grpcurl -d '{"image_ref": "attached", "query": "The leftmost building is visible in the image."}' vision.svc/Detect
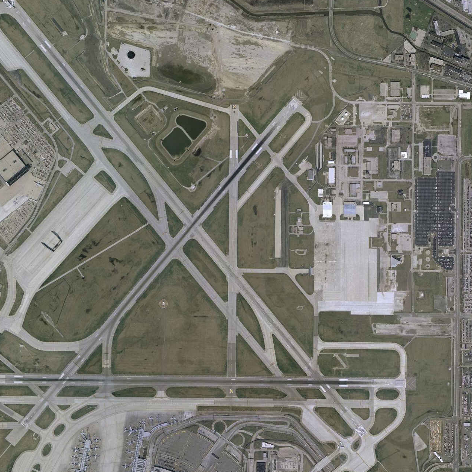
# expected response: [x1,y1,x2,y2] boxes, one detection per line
[0,148,31,185]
